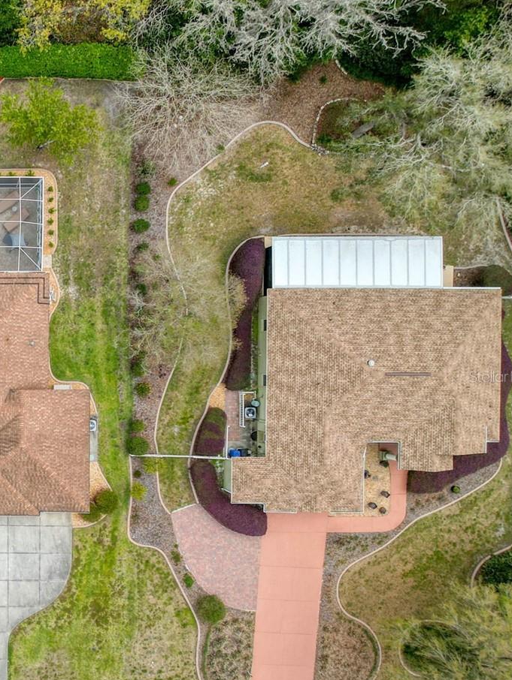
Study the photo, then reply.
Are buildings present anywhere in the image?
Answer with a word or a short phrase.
Yes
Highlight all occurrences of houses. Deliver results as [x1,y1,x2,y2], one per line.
[222,235,503,514]
[0,270,90,517]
